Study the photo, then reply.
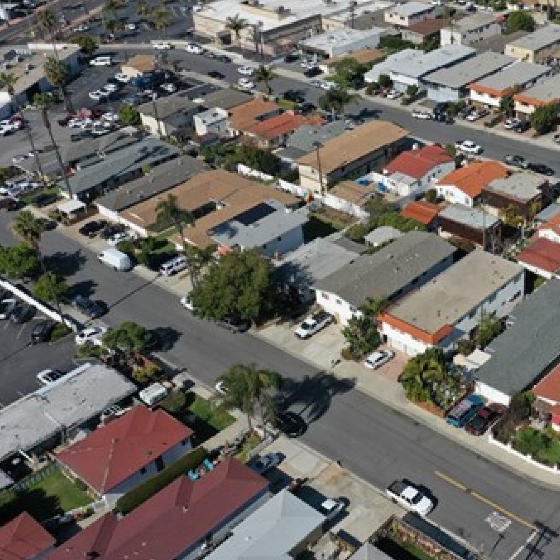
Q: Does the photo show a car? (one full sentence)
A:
Yes, looking at the shot, I can spot a car.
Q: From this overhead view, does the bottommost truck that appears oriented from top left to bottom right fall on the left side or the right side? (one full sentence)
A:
The bottommost truck that appears oriented from top left to bottom right appears in the right half of the scene.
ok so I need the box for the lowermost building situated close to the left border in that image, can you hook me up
[0,510,57,560]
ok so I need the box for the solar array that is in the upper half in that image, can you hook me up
[234,205,275,225]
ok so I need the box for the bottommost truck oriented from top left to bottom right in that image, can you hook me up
[384,476,435,515]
